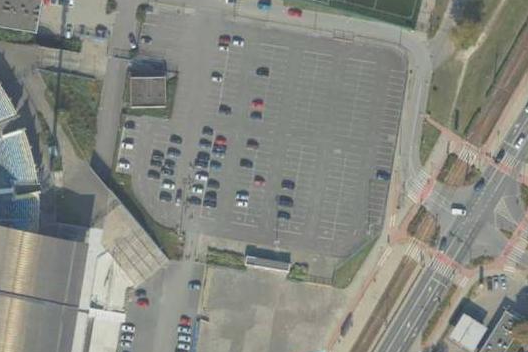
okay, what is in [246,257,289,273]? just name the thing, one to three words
shed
